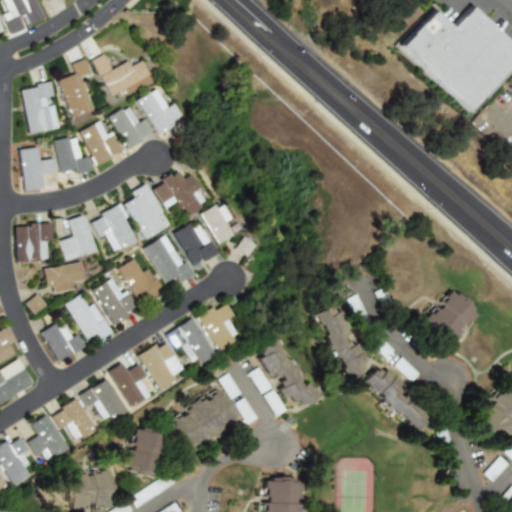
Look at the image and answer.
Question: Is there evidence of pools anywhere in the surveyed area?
No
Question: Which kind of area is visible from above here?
residential area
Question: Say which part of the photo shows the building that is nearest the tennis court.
bottom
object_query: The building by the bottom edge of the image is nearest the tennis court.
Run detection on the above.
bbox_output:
[259,478,310,512]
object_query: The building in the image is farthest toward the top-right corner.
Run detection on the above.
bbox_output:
[404,6,512,112]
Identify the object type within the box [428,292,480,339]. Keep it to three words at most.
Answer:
building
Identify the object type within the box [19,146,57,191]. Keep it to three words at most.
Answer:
house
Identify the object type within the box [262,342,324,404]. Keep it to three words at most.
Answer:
building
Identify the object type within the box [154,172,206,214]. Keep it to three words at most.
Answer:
house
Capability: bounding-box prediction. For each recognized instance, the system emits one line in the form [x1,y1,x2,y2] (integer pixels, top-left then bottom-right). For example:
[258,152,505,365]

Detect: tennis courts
[334,457,376,512]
